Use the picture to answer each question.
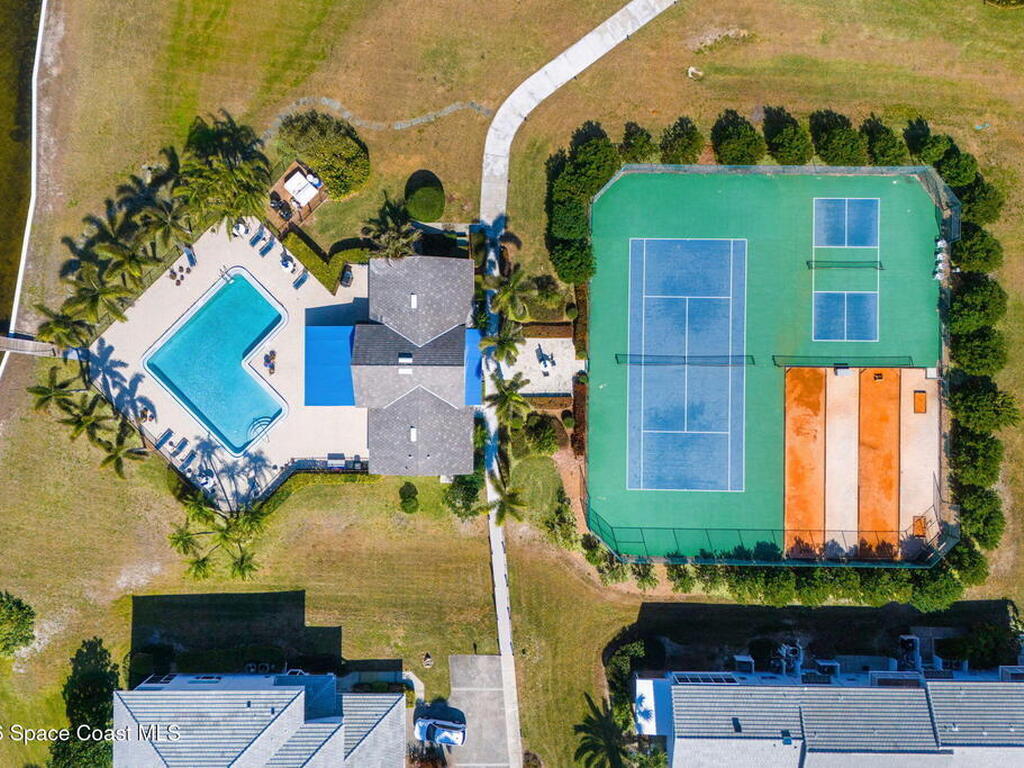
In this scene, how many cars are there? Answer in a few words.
1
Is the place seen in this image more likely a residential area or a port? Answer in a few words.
residential area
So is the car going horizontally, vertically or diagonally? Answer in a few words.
horizontally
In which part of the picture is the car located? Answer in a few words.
bottom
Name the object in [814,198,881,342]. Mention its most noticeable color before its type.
blue sports court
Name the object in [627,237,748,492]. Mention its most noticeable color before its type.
blue tennis court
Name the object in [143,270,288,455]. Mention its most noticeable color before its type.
blue swimming pool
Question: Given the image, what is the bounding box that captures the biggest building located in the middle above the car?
[351,255,474,476]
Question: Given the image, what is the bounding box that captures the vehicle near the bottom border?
[415,718,468,746]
